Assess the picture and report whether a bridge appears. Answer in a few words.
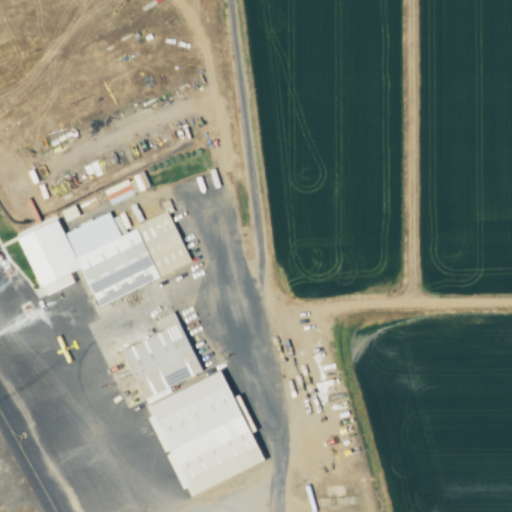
No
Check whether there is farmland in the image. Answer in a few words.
Yes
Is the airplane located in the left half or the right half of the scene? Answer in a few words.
left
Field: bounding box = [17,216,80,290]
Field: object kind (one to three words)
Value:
hangar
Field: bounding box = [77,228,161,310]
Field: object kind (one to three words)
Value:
hangar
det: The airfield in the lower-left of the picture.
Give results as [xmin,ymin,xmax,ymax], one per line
[0,249,190,512]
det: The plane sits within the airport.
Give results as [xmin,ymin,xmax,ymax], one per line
[56,336,77,364]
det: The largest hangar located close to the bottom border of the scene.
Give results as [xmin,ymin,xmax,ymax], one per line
[145,368,267,500]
